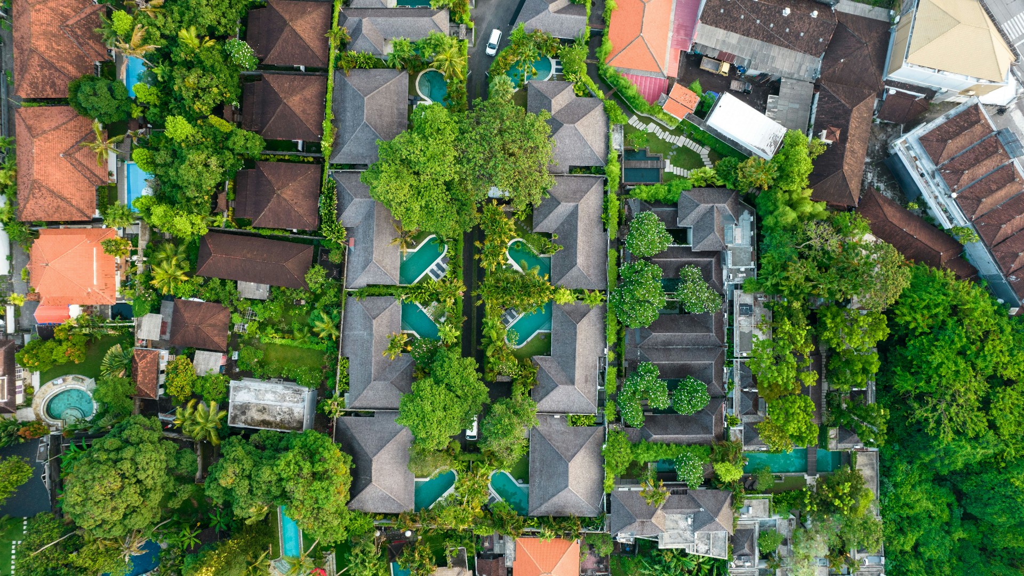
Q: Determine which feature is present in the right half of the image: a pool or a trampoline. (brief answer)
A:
pool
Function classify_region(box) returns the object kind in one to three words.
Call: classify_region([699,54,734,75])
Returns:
truck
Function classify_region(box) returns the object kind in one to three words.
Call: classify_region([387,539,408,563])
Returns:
shed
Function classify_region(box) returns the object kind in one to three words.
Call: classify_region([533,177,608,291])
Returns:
house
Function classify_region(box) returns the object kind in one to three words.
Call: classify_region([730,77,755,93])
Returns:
vehicle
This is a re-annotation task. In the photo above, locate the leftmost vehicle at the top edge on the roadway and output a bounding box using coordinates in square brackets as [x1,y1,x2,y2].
[484,26,504,56]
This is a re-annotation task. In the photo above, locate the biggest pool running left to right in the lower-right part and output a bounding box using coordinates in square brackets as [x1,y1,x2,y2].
[741,448,845,476]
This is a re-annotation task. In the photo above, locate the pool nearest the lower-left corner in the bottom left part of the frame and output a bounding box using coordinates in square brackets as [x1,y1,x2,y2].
[110,539,163,576]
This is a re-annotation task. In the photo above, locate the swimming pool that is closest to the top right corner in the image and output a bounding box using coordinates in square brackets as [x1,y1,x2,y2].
[621,147,663,185]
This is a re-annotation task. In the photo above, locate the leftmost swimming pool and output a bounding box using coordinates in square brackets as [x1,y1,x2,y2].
[43,381,96,427]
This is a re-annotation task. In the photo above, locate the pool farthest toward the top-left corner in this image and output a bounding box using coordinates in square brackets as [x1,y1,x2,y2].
[123,53,149,99]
